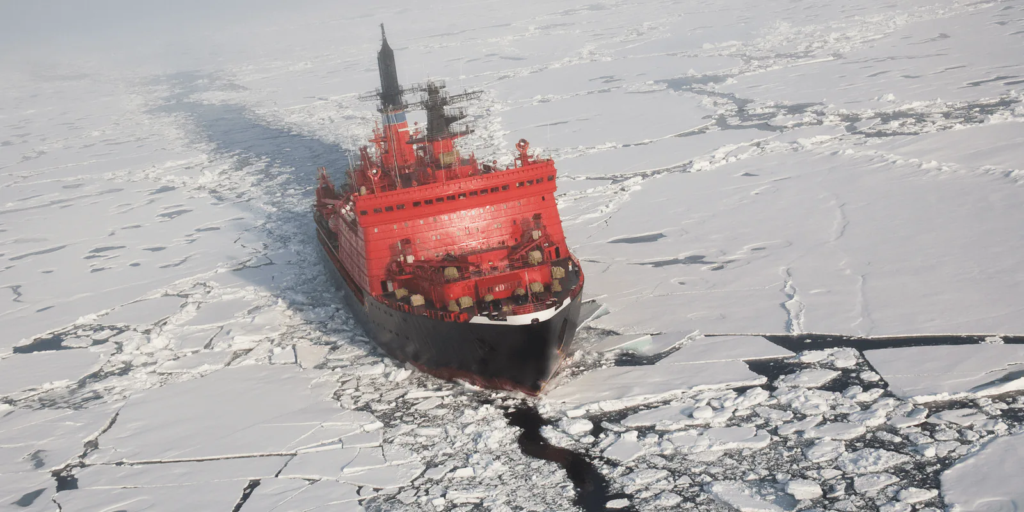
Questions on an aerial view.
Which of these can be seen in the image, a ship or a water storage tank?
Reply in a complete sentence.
There is a ship in the scene.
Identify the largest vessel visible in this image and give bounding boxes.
[312,24,586,399]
